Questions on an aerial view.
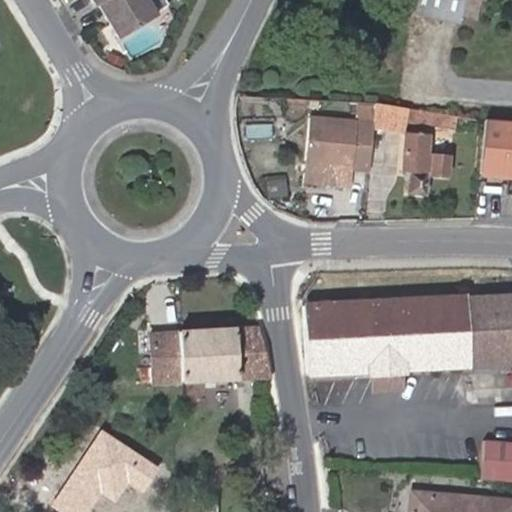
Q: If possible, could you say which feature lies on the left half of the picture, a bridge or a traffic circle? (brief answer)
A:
traffic circle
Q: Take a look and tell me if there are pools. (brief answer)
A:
Yes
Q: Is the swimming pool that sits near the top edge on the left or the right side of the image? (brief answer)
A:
left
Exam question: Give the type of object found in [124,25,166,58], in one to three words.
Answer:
swimming pool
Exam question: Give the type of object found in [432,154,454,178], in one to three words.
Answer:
house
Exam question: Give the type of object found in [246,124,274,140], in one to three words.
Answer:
swimming pool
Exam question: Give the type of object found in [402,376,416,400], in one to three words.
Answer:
car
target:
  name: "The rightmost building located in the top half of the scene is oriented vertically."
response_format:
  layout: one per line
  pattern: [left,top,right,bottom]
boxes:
[482,118,512,184]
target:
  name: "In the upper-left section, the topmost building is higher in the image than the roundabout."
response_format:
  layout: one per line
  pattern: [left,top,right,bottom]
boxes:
[89,0,160,39]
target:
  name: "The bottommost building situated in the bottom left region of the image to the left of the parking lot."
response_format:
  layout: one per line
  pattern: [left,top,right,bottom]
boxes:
[46,430,159,512]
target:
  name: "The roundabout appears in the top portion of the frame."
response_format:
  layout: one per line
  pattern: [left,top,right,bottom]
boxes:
[64,101,222,259]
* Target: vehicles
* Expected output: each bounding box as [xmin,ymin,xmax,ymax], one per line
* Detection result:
[69,0,91,12]
[496,406,512,417]
[466,438,476,460]
[491,194,502,216]
[317,412,340,424]
[288,484,297,505]
[477,194,488,216]
[80,8,101,24]
[312,194,333,204]
[483,184,504,195]
[316,204,326,218]
[164,298,175,324]
[402,376,416,400]
[82,271,94,293]
[350,184,361,205]
[355,438,365,459]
